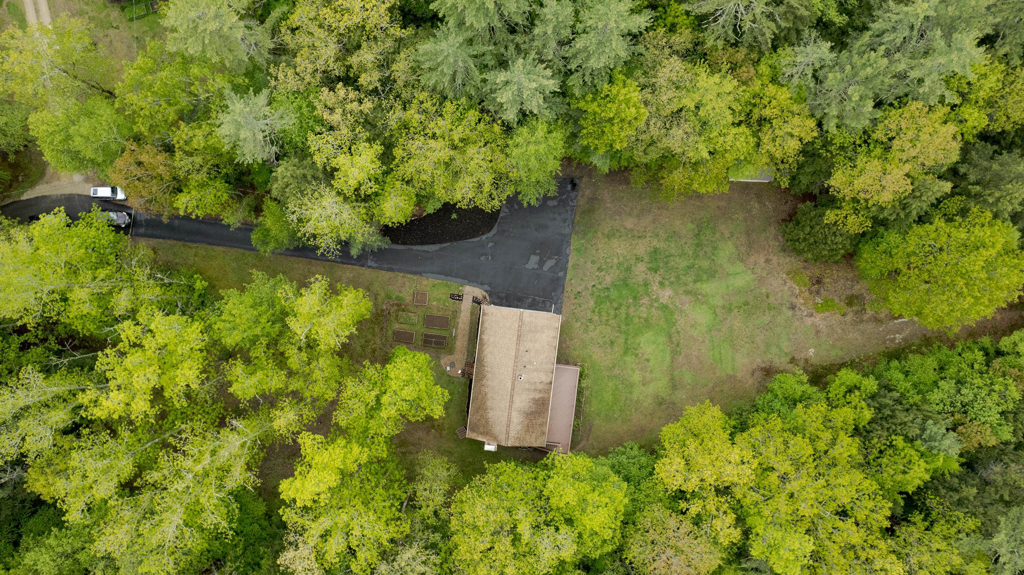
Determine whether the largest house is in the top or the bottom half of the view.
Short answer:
bottom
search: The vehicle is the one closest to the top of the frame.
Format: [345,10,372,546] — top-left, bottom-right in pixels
[87,186,129,203]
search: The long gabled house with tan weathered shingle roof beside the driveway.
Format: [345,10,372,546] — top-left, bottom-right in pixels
[465,305,563,453]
